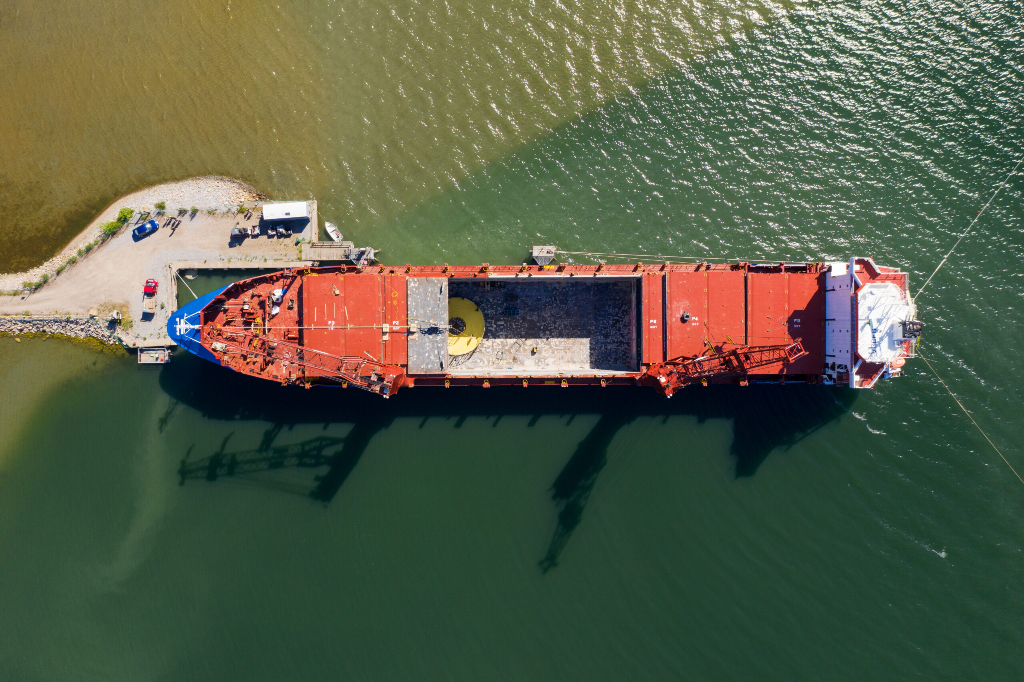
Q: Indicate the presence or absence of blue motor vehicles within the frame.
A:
Yes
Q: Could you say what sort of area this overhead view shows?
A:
port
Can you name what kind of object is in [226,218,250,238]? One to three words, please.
work vehicle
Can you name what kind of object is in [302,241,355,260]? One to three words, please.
pier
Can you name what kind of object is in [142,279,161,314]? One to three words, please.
vehicle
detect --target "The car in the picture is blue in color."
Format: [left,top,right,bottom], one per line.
[131,218,162,239]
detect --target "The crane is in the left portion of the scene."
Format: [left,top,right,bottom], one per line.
[209,325,404,399]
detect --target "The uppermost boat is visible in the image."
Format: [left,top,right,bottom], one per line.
[327,222,345,241]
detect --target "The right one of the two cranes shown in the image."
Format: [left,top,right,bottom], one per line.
[639,334,812,399]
